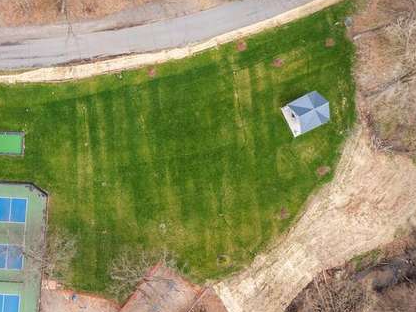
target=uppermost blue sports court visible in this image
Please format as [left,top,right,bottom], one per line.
[0,196,27,269]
